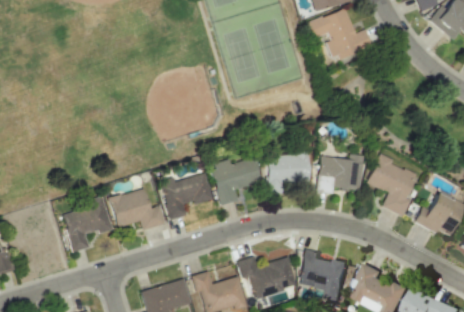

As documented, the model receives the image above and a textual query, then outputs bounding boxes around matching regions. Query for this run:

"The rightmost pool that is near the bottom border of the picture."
[299,284,326,298]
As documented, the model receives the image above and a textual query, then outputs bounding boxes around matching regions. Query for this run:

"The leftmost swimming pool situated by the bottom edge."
[261,284,295,308]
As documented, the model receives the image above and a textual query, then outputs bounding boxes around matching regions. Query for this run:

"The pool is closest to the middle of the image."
[168,164,203,180]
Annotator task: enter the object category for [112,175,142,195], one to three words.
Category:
swimming pool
